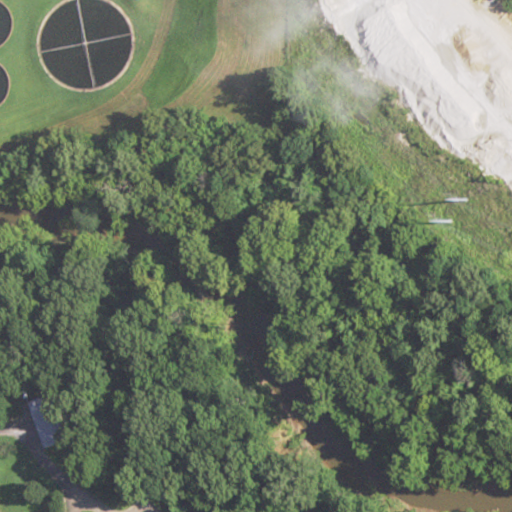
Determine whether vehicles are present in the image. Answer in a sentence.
No, no vehicle is visible in the scene.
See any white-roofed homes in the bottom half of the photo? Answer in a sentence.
No, there's no white-roofed home to be seen in the bottom half of the photo.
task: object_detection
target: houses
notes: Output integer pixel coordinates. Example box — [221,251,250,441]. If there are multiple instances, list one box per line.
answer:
[28,398,57,448]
